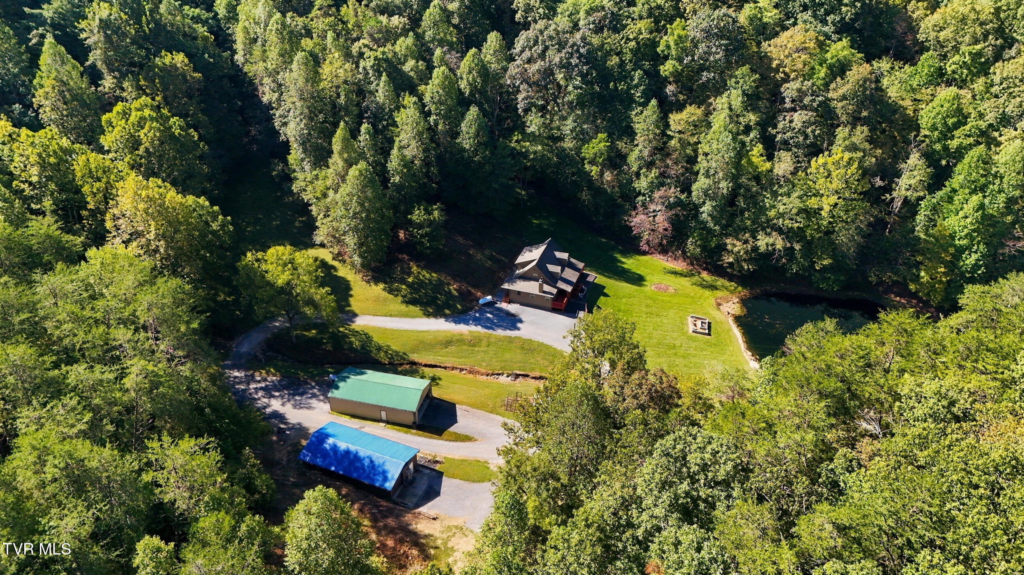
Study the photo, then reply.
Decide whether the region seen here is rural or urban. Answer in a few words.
rural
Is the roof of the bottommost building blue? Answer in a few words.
Yes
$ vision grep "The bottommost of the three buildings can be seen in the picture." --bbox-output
[299,421,421,501]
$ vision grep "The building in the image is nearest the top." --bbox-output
[501,238,584,311]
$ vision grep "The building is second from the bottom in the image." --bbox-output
[327,367,431,425]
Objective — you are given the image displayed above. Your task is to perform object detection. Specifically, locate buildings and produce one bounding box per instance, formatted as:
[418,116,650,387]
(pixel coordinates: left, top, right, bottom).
[327,367,431,425]
[501,238,584,311]
[299,421,421,501]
